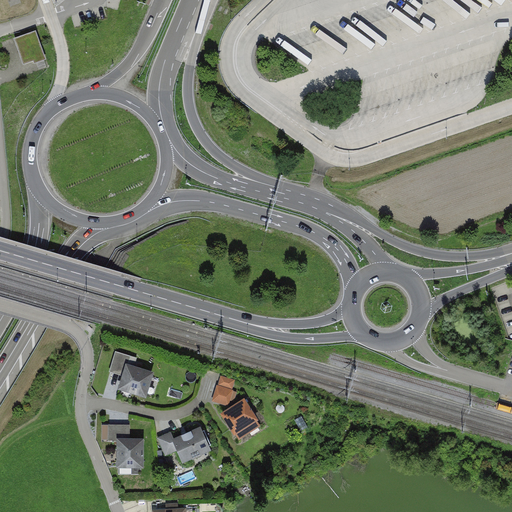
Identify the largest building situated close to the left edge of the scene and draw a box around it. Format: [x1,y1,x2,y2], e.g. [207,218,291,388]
[14,31,48,69]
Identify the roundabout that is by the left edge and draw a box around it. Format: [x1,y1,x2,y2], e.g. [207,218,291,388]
[25,84,172,232]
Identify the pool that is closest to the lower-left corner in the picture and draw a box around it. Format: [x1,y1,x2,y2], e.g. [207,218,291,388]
[177,470,196,486]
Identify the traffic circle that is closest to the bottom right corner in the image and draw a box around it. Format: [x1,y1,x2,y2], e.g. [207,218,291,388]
[342,262,430,350]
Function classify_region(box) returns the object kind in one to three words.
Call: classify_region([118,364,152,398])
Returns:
house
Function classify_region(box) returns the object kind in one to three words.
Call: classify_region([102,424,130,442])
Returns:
building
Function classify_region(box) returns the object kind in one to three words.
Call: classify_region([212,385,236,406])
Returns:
house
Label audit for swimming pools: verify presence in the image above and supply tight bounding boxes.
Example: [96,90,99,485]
[177,470,196,486]
[168,388,183,400]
